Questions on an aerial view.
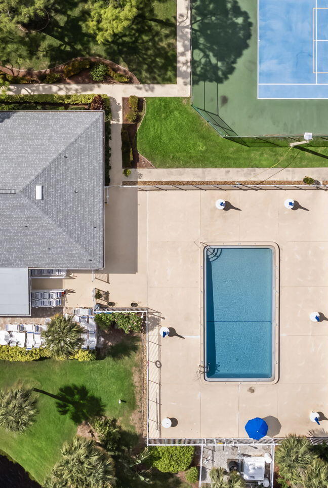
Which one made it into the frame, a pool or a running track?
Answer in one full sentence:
There is a pool in the scene.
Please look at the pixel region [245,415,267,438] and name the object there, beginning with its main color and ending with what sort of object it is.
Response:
blue umbrella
